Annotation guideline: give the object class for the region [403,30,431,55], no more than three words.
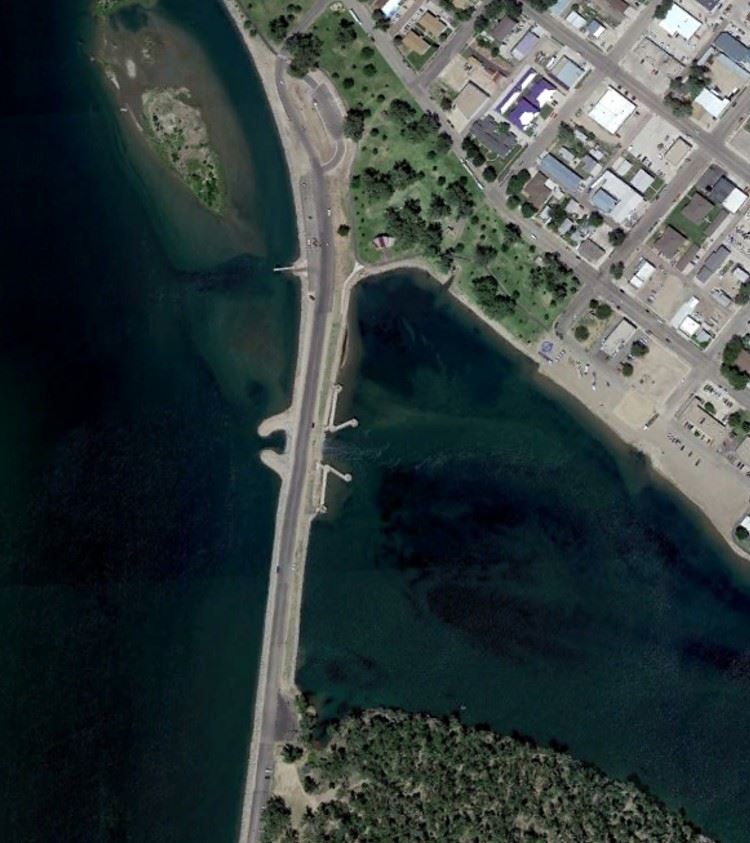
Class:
house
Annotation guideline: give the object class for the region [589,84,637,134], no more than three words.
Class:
building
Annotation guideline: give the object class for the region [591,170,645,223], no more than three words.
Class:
building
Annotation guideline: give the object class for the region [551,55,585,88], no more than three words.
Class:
shed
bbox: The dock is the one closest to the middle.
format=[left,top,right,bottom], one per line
[324,384,357,432]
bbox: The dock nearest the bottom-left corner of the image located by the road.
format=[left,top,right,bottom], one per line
[315,463,352,512]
